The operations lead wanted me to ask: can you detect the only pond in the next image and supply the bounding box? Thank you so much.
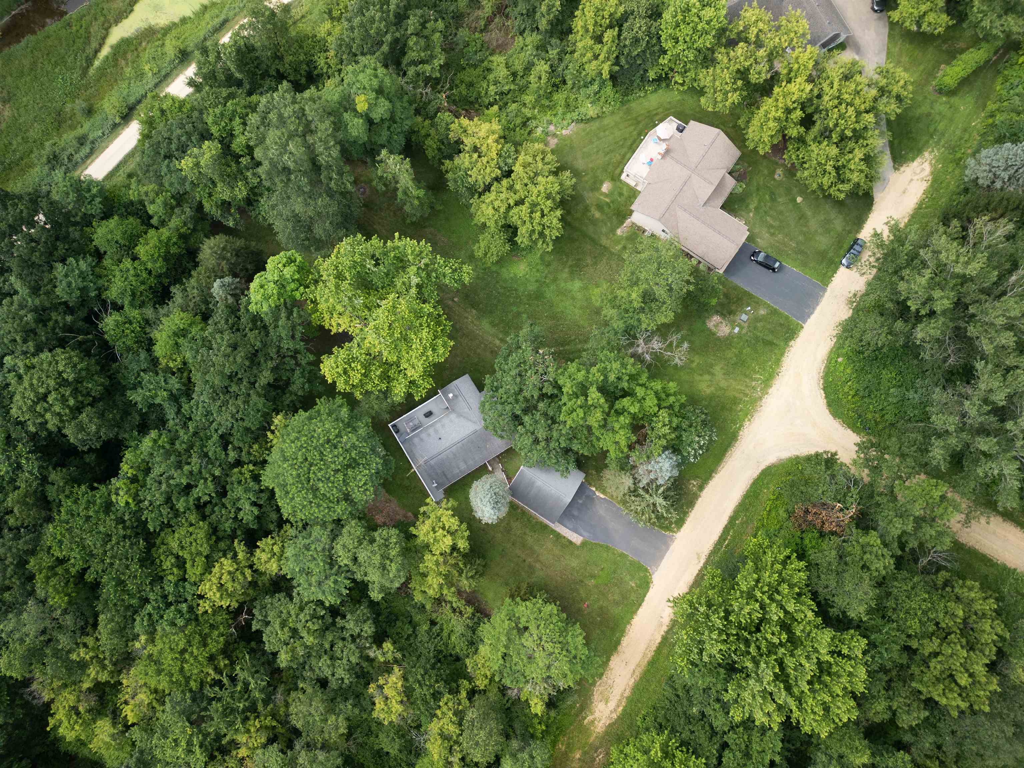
[86,0,205,74]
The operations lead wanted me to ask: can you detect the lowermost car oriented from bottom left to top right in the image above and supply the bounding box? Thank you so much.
[841,238,866,269]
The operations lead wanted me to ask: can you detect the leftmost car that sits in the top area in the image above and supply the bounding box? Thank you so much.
[751,251,782,271]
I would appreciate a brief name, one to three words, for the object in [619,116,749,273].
house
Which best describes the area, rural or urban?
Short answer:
rural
